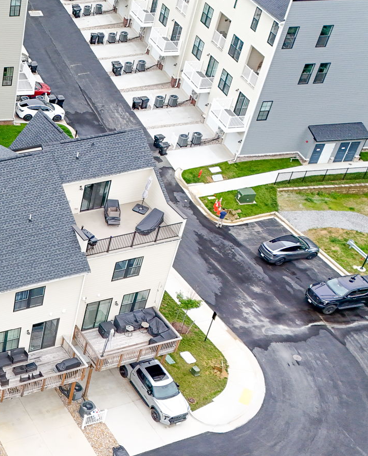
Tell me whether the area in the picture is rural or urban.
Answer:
urban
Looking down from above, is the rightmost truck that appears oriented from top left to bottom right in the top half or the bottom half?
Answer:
bottom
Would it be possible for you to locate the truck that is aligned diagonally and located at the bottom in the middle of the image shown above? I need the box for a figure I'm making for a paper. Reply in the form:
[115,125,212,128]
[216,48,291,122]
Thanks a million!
[118,358,192,427]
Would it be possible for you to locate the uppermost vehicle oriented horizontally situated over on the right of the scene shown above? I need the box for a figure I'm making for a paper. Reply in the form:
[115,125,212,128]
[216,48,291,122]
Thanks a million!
[261,232,325,264]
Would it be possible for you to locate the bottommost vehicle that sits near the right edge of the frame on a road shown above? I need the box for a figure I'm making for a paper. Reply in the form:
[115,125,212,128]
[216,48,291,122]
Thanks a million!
[305,272,368,311]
